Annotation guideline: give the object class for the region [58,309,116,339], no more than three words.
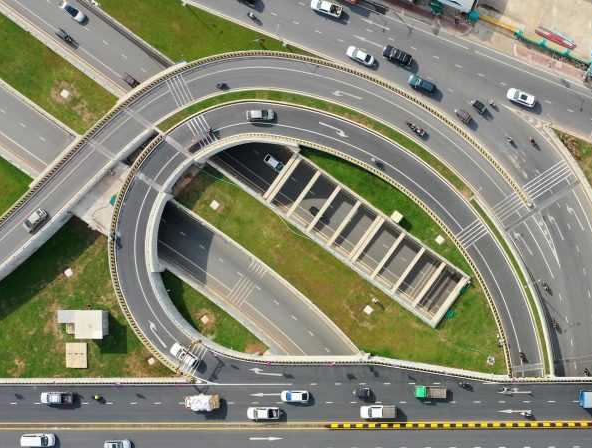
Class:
shed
